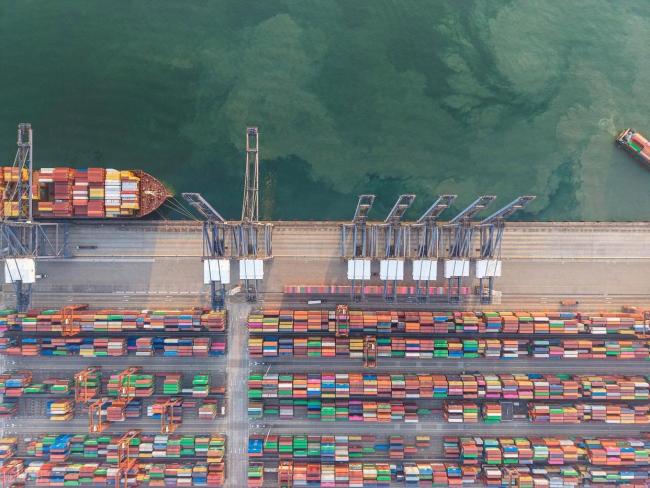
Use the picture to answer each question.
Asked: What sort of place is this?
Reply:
port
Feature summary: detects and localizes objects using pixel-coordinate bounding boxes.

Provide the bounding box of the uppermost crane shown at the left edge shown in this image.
[0,126,72,302]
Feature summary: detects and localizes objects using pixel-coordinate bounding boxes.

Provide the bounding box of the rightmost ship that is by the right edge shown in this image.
[615,129,650,169]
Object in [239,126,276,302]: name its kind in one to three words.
container crane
